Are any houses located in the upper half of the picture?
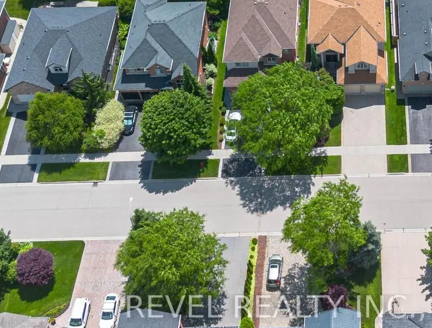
Yes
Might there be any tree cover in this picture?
Yes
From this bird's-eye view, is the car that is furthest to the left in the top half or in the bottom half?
bottom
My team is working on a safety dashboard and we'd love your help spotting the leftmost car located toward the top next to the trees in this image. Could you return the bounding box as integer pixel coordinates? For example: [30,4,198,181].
[122,106,139,138]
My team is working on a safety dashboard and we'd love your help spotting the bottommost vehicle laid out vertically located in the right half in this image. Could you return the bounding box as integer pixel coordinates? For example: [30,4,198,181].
[266,253,284,292]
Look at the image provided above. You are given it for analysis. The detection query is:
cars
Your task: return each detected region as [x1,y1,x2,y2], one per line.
[225,113,241,142]
[122,106,139,138]
[98,292,121,328]
[66,290,91,328]
[266,253,284,292]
